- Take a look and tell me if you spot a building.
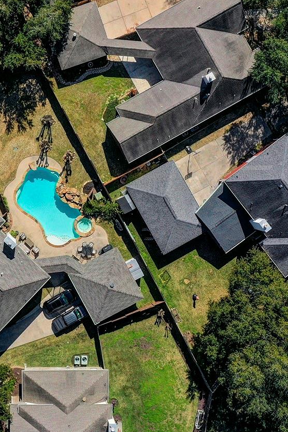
Yes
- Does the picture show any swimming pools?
Yes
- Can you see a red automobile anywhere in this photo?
No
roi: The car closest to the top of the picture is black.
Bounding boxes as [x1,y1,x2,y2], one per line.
[41,288,78,314]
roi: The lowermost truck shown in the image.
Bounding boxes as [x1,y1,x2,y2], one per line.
[50,305,90,335]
